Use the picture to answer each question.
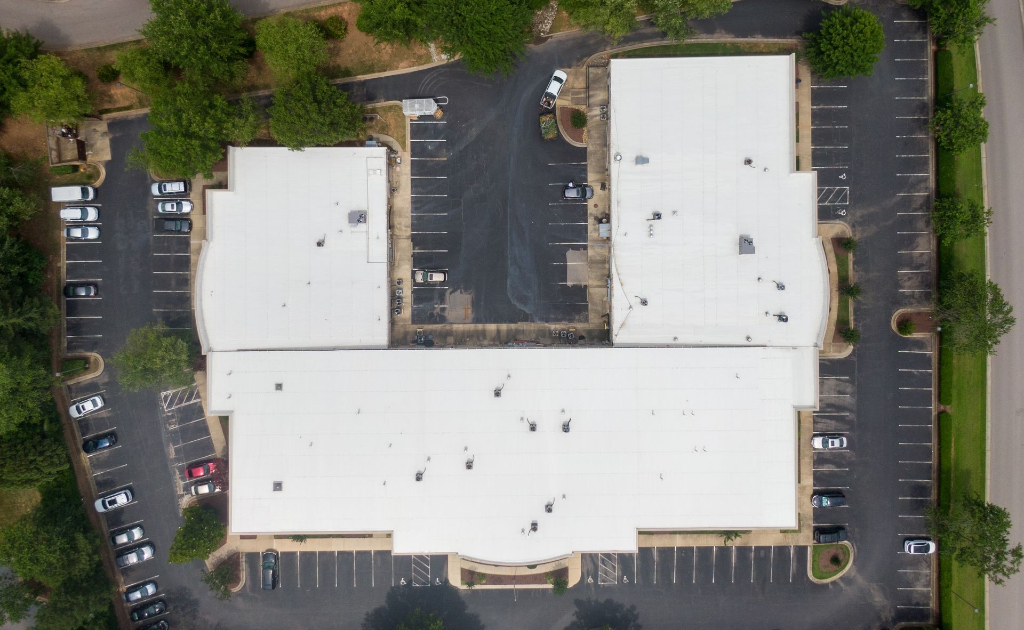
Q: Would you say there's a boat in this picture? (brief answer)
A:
No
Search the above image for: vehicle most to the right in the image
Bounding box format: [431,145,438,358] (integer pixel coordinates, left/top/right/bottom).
[903,539,935,555]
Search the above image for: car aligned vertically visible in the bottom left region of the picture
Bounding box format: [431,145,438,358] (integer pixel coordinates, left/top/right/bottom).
[261,549,278,589]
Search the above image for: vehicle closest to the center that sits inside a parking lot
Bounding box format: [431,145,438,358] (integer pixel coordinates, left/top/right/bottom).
[415,268,448,284]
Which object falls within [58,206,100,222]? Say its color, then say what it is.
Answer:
white car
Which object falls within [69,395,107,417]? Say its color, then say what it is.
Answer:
white car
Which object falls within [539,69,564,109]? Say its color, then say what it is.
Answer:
white truck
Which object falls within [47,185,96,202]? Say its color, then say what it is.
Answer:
white vehicle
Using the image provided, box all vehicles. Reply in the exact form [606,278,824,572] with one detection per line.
[539,69,564,109]
[64,282,100,298]
[122,580,160,603]
[58,206,100,222]
[94,489,135,512]
[184,460,222,479]
[190,479,227,495]
[64,225,102,240]
[903,539,935,555]
[114,543,158,568]
[261,549,278,589]
[82,432,119,453]
[109,524,147,545]
[153,217,194,234]
[129,600,169,622]
[152,180,192,196]
[69,395,107,417]
[810,492,847,509]
[810,435,847,450]
[415,268,448,284]
[158,198,195,214]
[563,180,593,200]
[47,185,96,202]
[813,527,846,544]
